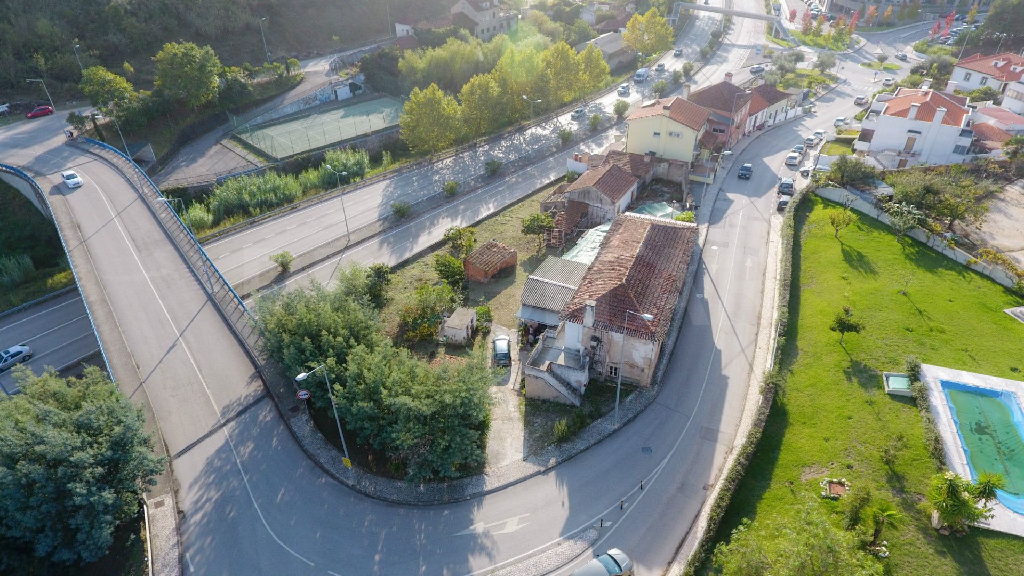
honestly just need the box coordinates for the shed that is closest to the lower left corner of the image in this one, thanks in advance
[440,307,475,338]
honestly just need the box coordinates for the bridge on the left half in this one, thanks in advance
[0,120,263,392]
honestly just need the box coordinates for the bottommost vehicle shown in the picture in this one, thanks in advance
[570,546,636,576]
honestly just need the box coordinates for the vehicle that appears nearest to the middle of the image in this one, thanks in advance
[490,336,510,363]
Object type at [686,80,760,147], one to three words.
house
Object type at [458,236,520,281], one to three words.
building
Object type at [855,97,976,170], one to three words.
house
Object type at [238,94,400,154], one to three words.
sports court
